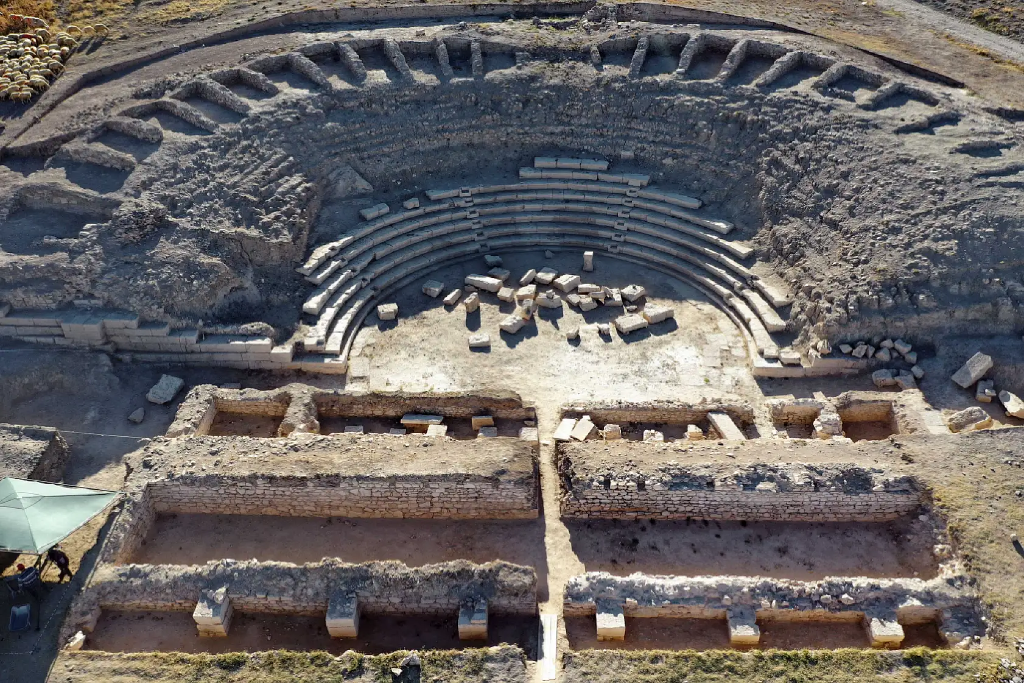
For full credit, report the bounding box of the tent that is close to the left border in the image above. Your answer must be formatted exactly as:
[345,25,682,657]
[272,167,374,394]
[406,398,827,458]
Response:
[0,477,122,612]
